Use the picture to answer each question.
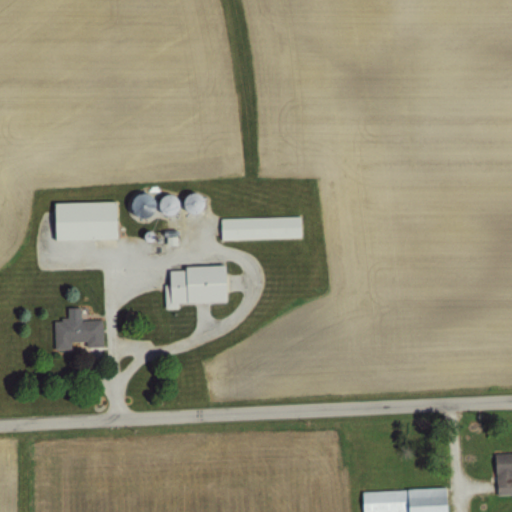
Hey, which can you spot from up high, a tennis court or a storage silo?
storage silo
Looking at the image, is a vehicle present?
No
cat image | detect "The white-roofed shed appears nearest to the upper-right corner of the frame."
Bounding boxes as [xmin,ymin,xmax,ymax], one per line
[222,217,303,242]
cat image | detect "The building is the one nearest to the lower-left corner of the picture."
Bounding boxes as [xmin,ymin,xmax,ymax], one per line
[55,308,104,351]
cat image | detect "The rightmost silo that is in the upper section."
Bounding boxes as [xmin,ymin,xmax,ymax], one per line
[184,193,207,216]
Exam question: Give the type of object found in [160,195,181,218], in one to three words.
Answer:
silo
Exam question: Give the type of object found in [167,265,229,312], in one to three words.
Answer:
building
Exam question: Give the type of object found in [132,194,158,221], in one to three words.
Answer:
silo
